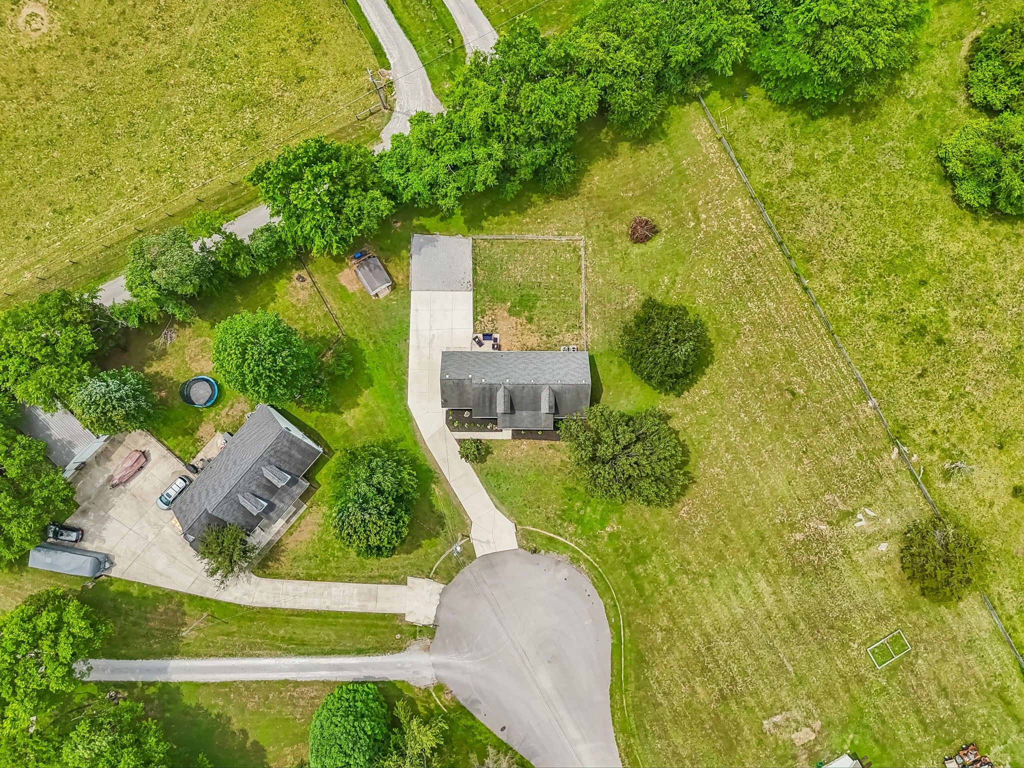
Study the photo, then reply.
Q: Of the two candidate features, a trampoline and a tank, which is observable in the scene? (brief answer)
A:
trampoline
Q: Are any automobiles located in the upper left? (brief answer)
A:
No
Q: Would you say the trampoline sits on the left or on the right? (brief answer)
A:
left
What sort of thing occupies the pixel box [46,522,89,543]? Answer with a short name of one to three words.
car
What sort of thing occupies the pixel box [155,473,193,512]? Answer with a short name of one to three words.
car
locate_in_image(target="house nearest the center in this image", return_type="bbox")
[439,350,591,430]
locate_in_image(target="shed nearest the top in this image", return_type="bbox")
[353,253,391,298]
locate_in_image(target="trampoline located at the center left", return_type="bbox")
[176,375,216,408]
